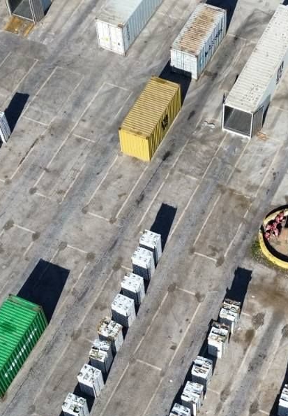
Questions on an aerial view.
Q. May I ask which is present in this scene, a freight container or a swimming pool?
freight container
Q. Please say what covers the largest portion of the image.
paved ground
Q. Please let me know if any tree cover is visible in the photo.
No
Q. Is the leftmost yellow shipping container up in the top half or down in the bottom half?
top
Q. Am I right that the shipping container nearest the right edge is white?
Yes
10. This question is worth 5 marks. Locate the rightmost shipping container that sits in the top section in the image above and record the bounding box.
[223,3,288,138]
